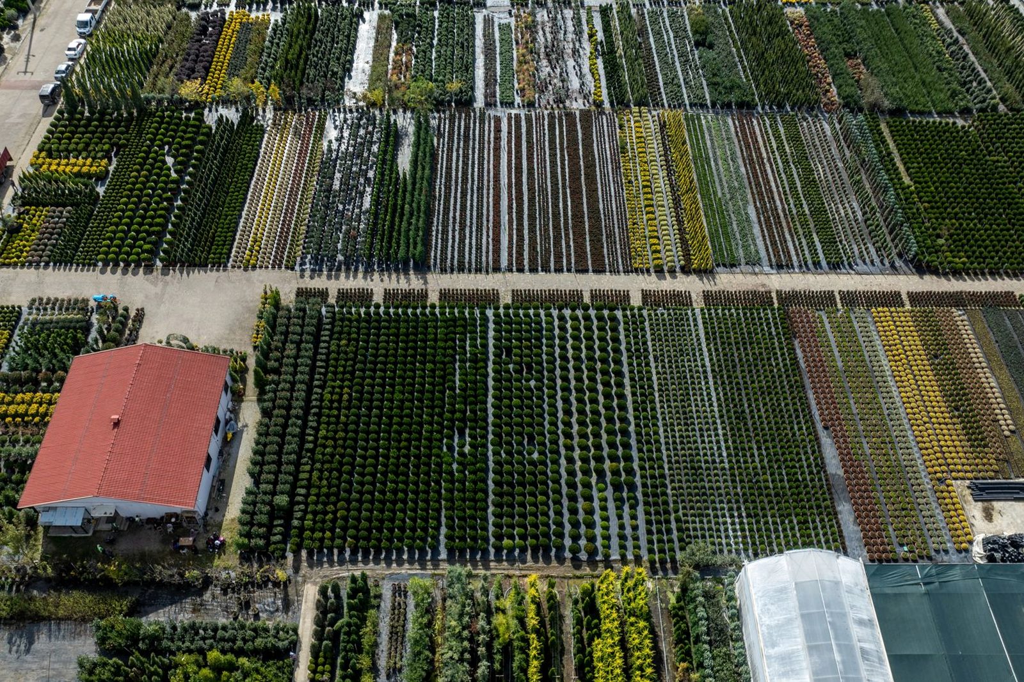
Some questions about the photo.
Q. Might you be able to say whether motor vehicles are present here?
Yes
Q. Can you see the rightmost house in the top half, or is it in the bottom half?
bottom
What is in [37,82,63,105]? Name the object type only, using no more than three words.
car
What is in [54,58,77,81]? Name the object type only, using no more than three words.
car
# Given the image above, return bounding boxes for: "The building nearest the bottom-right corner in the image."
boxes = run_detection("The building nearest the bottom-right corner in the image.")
[863,563,1024,682]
